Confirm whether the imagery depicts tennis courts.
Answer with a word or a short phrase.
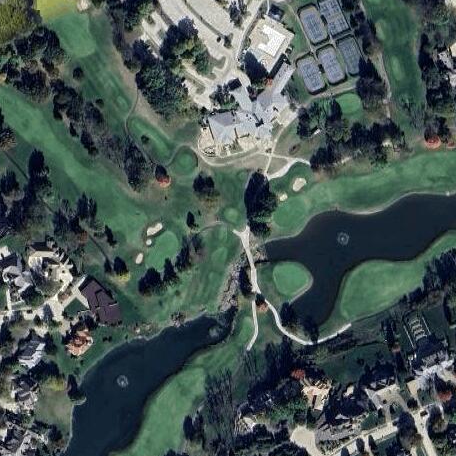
Yes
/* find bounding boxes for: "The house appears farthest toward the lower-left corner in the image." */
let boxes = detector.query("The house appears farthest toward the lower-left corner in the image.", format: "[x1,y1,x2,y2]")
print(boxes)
[0,421,52,456]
